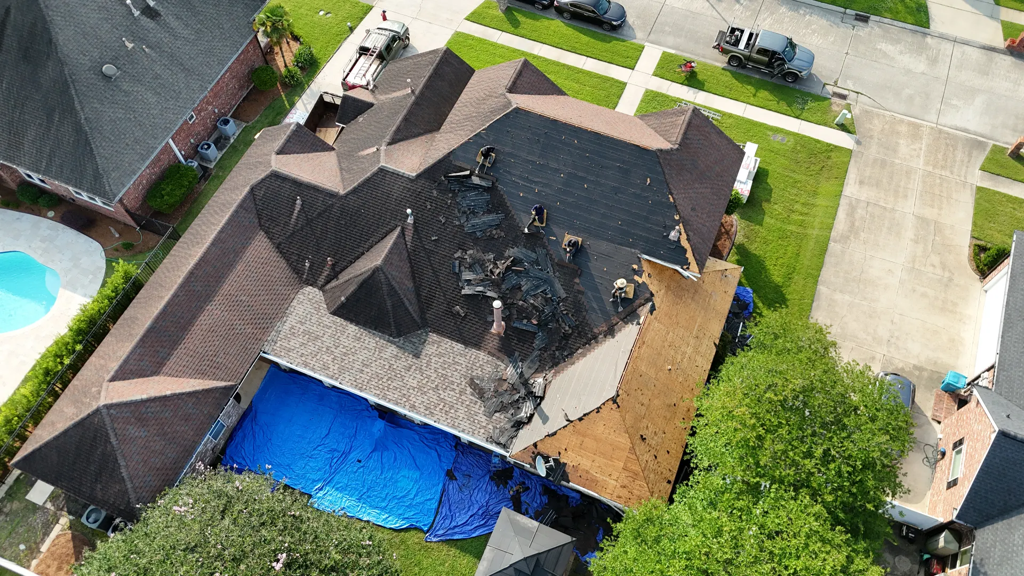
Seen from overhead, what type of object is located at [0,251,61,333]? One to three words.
swimming pool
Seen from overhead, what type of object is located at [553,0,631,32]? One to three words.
car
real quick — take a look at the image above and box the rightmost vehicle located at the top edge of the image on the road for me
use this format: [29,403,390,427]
[710,27,818,85]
